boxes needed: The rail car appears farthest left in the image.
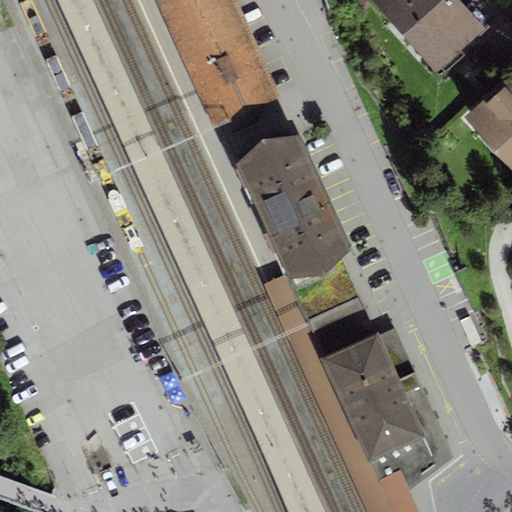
[16,0,52,51]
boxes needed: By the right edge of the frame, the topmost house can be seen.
[374,0,488,78]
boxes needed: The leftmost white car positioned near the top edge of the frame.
[243,8,264,22]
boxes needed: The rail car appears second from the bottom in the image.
[44,54,76,105]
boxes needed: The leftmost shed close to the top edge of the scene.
[155,0,280,130]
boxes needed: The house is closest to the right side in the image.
[465,74,512,168]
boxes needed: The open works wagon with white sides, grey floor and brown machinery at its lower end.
[71,110,102,160]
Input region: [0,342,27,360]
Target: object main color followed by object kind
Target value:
white car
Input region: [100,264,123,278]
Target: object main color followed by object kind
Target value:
blue car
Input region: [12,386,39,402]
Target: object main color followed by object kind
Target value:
white car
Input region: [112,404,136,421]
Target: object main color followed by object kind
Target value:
black car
